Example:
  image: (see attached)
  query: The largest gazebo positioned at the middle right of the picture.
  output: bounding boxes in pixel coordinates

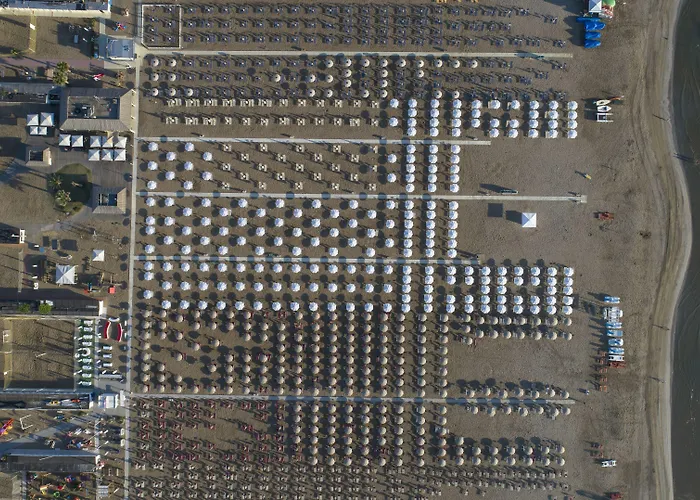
[519,212,537,226]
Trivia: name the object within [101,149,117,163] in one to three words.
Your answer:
gazebo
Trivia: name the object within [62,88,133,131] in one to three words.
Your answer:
building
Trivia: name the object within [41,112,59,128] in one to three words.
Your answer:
gazebo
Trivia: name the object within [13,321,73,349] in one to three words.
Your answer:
sports court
